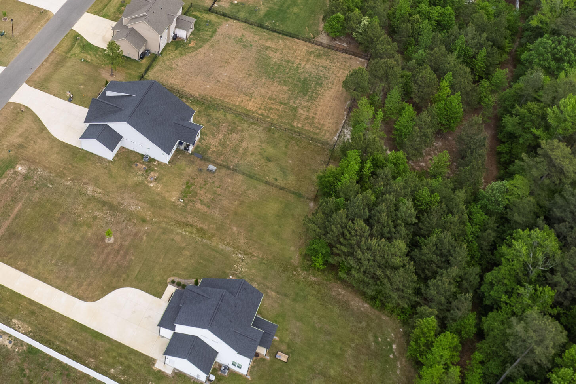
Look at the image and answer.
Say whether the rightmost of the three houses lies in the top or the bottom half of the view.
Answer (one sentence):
Seen from above, the rightmost of the three houses lies in the bottom half of the view.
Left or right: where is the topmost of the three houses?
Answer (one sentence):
It is on the left.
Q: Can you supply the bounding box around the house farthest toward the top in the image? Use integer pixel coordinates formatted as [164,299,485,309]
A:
[111,0,197,60]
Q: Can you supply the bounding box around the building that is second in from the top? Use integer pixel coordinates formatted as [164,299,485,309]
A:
[79,79,204,165]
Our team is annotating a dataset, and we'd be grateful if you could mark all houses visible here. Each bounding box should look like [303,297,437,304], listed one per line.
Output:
[111,0,197,60]
[79,79,204,165]
[156,274,278,384]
